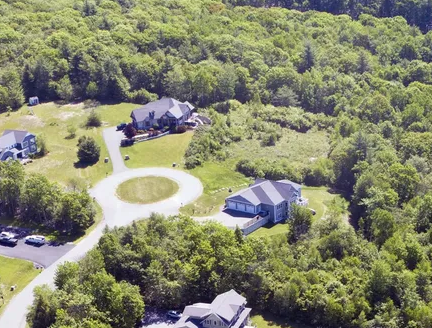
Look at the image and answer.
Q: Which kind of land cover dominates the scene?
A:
trees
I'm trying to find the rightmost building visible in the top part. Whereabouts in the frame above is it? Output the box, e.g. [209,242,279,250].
[128,98,195,130]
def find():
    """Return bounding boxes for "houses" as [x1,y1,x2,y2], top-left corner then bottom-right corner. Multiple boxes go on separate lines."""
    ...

[128,98,195,130]
[225,178,314,220]
[0,127,39,161]
[173,289,261,328]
